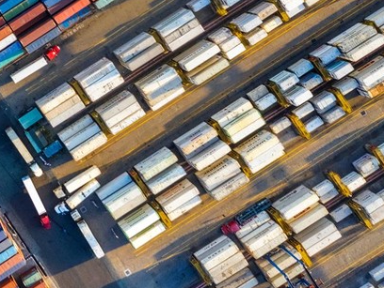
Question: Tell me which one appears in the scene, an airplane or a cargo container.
cargo container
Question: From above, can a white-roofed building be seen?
No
